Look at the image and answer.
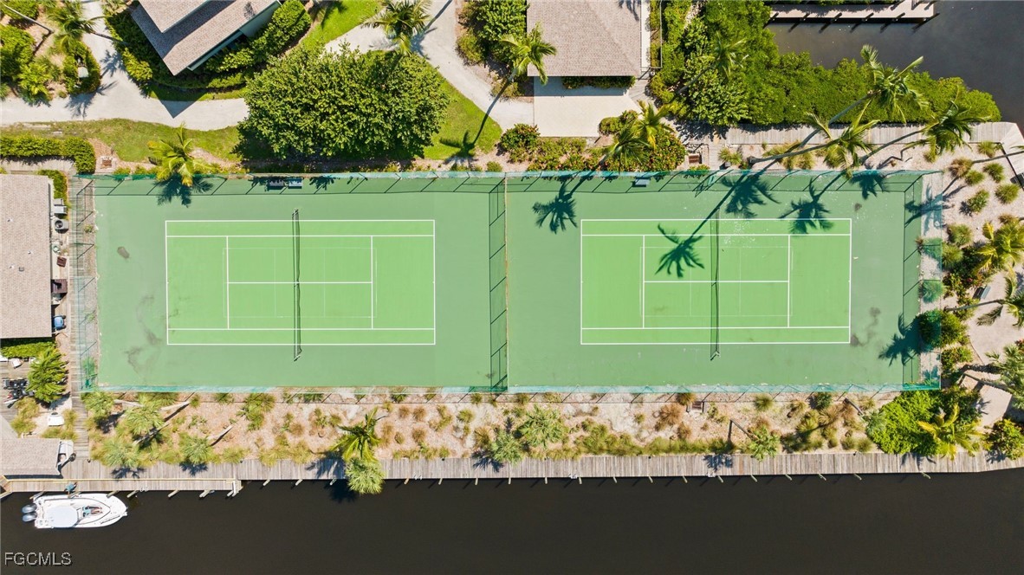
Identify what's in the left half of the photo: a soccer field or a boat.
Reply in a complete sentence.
It is a boat that can be seen in the left half of the photo.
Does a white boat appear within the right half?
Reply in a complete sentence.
No, I can find no white boat within the right half.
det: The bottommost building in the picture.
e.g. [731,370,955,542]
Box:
[0,437,63,476]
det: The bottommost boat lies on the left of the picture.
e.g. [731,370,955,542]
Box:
[17,496,129,532]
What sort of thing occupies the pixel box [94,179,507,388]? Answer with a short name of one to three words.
tennis court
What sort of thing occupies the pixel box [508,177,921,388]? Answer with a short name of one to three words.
tennis court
